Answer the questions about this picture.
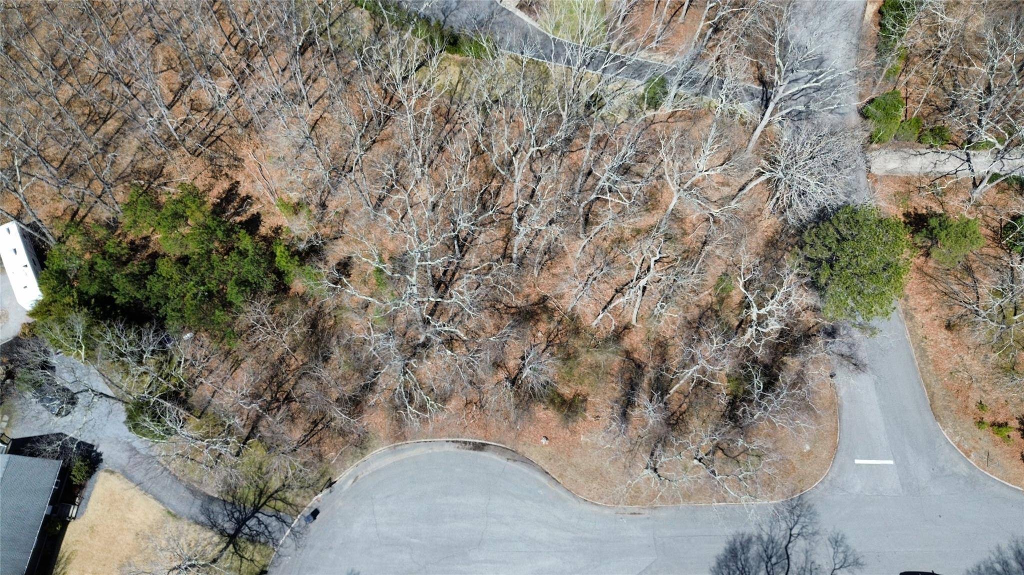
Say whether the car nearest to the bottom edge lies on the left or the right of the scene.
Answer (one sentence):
The car nearest to the bottom edge appears in the left half of the scene.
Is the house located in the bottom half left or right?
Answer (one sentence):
The house located in the bottom half sits on the left side.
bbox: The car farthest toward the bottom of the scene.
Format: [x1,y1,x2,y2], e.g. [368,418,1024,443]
[31,383,74,419]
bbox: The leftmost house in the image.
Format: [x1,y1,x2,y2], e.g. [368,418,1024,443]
[0,436,85,575]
